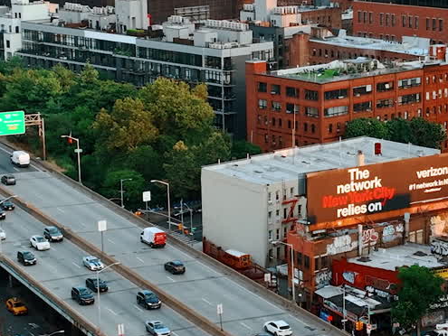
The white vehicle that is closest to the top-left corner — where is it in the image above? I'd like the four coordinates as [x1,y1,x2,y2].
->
[9,147,28,164]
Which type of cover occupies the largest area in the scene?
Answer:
buildings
